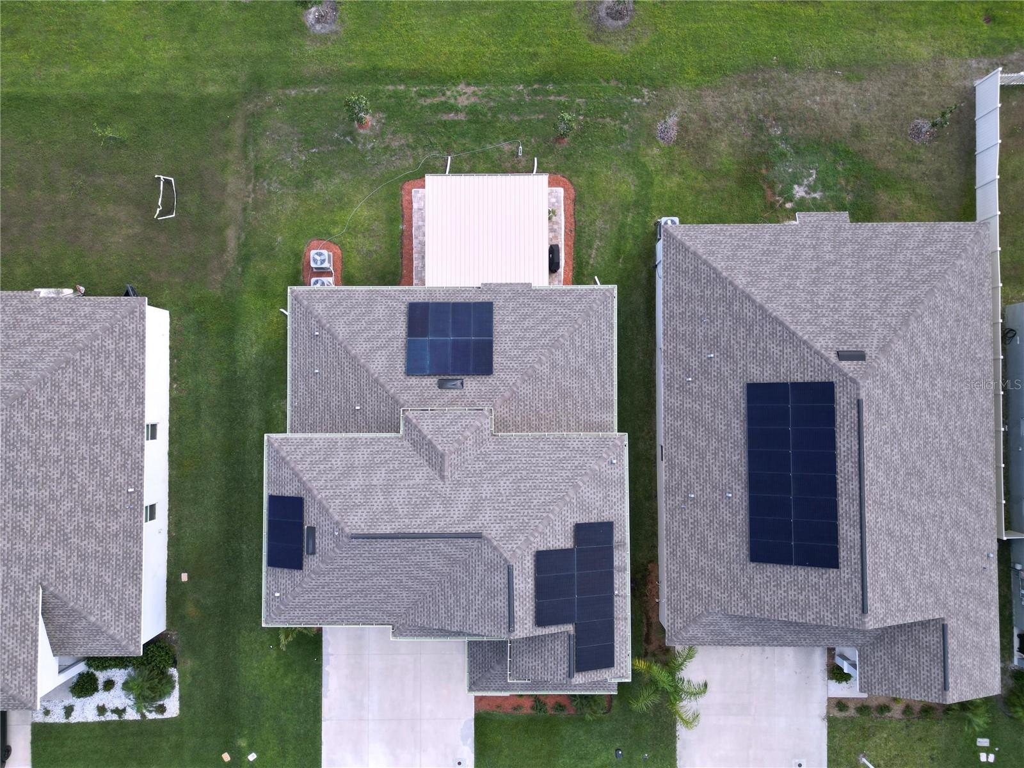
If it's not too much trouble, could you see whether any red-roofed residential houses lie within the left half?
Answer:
No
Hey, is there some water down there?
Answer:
No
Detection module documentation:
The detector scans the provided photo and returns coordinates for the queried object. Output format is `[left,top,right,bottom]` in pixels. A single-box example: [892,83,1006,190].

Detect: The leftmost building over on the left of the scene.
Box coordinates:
[0,291,169,711]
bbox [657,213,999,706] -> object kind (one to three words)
house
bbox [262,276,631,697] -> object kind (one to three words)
house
